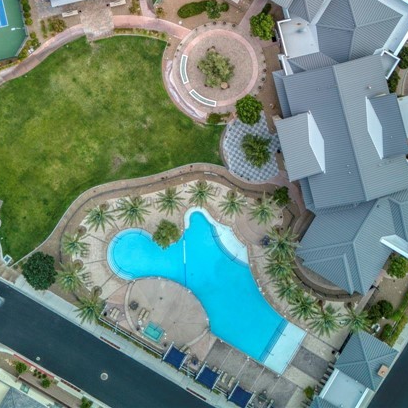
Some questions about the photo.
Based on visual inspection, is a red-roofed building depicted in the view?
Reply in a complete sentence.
No, no red-roofed building is visible in the view.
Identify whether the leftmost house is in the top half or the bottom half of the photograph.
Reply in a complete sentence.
Seen from above, the leftmost house lies in the bottom half of the view.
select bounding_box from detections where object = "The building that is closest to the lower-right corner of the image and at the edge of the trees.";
[300,328,399,408]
